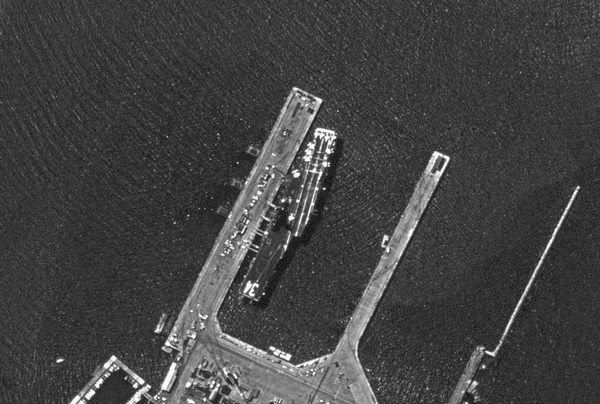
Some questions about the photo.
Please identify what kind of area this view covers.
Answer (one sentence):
The picture captures a port.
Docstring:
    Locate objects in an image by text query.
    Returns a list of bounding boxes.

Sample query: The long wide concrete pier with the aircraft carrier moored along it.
[163,87,322,352]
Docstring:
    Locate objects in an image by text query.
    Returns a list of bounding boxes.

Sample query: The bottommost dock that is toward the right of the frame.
[449,347,485,404]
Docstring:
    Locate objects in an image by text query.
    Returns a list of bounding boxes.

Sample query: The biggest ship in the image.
[239,127,338,301]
